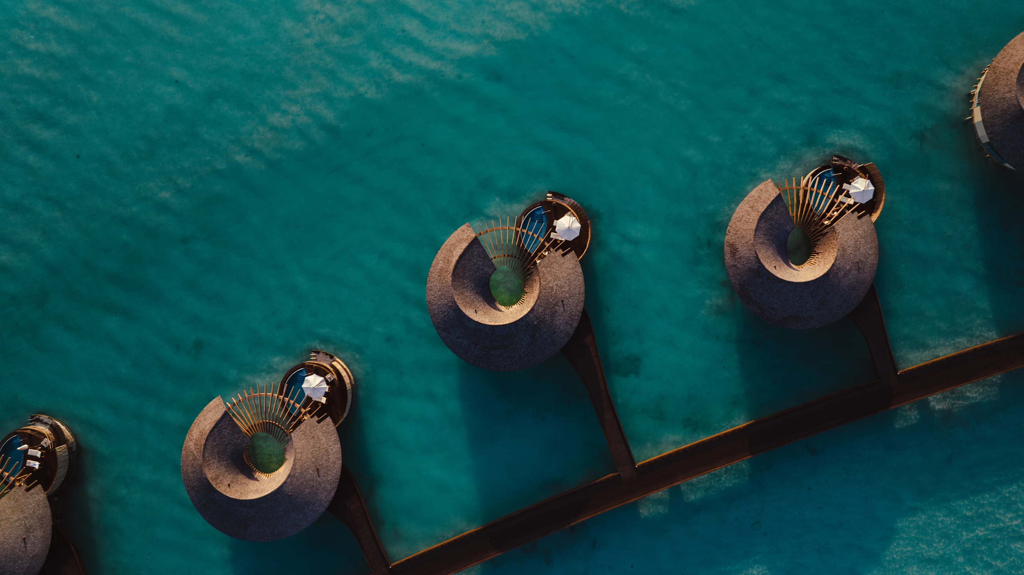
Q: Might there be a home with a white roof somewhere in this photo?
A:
No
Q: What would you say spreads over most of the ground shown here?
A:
water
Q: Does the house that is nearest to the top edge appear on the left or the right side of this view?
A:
right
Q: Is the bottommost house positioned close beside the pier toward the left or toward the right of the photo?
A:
left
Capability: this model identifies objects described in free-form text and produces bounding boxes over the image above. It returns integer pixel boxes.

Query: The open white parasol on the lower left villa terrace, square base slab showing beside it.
[302,373,334,399]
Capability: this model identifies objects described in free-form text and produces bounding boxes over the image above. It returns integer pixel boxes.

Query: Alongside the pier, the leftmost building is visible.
[182,385,342,544]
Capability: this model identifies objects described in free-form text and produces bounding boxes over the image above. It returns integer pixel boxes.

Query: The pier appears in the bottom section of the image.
[364,330,1024,575]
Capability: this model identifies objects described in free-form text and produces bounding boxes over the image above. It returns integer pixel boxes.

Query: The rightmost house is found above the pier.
[966,31,1024,172]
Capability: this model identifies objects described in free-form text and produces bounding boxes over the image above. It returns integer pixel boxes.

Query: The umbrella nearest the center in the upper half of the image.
[555,211,581,241]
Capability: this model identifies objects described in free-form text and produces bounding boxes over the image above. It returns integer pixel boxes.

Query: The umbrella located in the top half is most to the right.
[849,173,874,204]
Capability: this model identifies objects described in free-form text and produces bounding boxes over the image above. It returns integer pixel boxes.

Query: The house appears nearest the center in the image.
[426,216,585,372]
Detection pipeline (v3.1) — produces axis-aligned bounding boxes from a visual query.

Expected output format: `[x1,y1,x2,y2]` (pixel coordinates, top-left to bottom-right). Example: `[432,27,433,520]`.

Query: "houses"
[966,31,1024,172]
[723,179,878,329]
[0,457,58,575]
[182,385,342,544]
[426,216,585,372]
